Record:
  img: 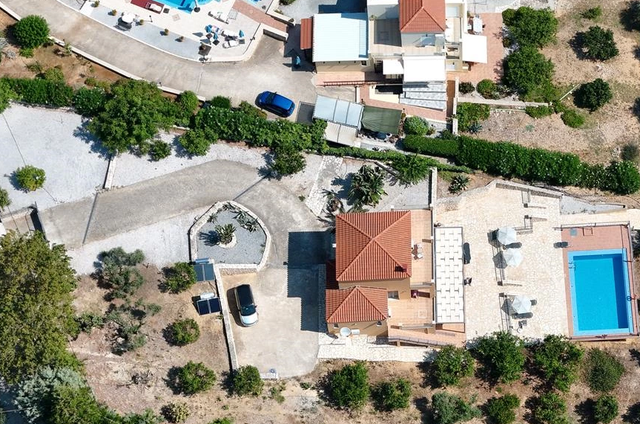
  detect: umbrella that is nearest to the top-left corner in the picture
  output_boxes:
[118,8,139,29]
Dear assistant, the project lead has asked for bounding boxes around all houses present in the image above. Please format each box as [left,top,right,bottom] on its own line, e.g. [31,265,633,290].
[325,209,466,351]
[300,0,487,110]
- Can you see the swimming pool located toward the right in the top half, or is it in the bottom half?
bottom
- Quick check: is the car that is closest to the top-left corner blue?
Yes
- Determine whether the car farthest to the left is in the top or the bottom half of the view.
bottom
